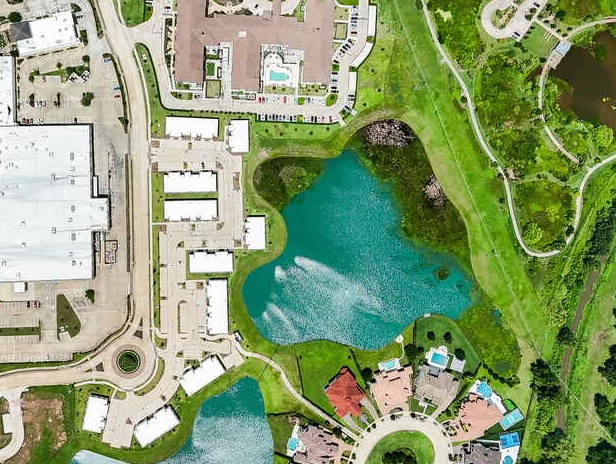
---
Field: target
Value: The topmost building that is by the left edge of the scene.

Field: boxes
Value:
[10,10,82,58]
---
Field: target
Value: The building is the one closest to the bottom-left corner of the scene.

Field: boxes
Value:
[82,393,109,432]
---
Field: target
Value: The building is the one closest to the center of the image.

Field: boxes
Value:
[244,214,265,250]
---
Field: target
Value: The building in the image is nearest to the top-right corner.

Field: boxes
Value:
[546,39,573,69]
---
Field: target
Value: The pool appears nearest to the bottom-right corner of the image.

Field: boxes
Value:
[500,445,520,464]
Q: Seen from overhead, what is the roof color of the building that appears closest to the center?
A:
white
